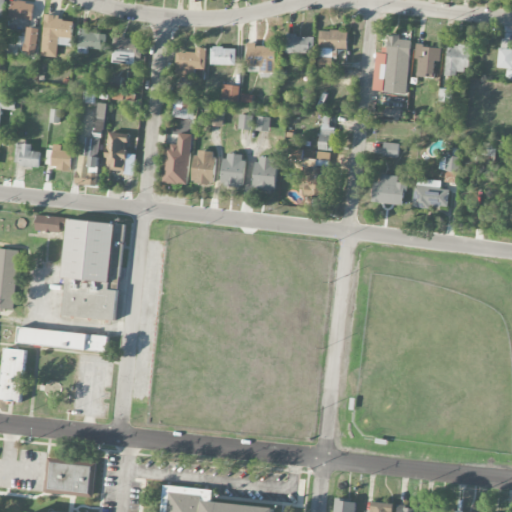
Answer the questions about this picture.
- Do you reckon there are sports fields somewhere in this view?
Yes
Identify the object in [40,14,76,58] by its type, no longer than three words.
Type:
house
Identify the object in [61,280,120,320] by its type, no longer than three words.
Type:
building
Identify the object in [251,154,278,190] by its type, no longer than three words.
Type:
house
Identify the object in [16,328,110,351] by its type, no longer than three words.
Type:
building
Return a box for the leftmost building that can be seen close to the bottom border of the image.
[44,458,99,496]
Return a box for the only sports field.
[150,226,335,439]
